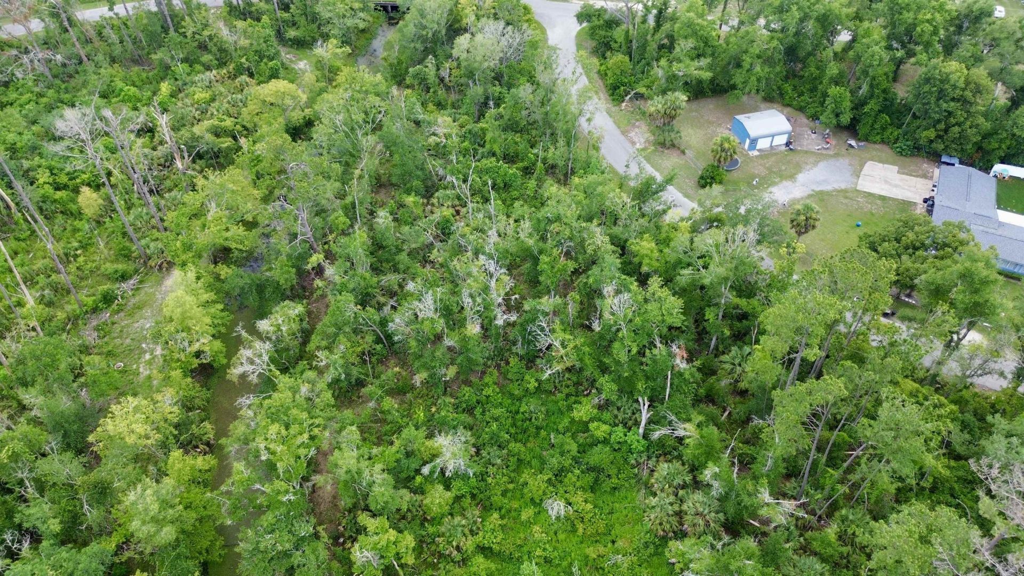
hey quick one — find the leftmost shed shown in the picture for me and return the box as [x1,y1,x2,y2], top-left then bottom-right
[729,111,793,151]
